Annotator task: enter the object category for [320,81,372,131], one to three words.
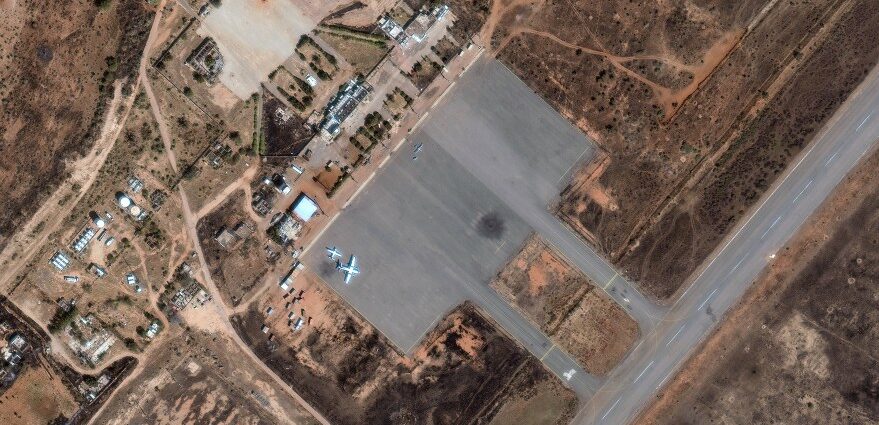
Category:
building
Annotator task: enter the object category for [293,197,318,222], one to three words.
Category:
hangar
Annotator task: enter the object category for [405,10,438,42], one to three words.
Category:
building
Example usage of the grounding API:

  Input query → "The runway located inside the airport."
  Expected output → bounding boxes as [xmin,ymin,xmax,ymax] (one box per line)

[561,62,879,425]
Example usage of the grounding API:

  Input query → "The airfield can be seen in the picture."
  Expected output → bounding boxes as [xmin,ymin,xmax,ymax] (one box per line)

[299,50,879,425]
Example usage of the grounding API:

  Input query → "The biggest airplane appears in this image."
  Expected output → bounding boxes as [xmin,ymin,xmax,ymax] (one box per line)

[336,256,360,283]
